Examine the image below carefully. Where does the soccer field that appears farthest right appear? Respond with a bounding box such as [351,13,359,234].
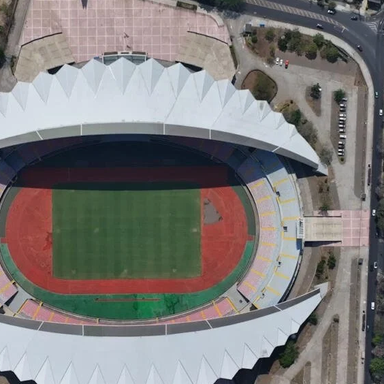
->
[53,183,201,279]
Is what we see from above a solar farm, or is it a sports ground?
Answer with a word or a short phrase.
sports ground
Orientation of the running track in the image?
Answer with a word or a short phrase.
from left to right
